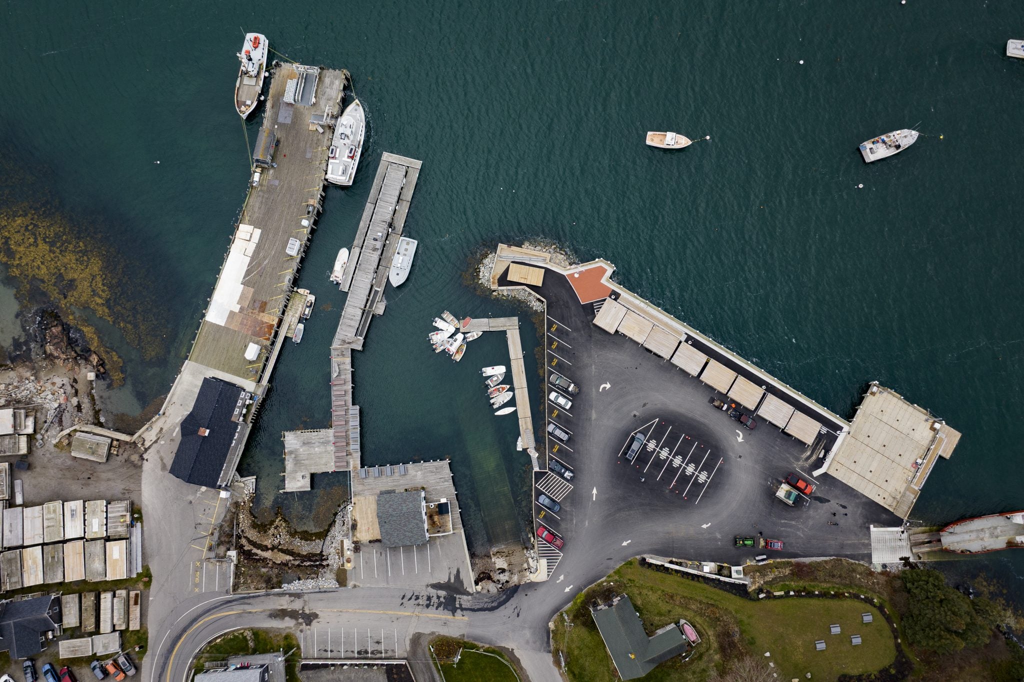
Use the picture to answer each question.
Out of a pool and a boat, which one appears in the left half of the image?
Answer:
boat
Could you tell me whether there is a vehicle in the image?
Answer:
Yes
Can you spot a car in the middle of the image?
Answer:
Yes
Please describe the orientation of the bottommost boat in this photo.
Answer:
on a diagonal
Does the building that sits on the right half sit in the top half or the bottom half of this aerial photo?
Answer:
bottom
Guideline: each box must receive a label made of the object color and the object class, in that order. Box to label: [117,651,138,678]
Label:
gray car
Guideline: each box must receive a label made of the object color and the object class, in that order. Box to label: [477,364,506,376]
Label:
white boat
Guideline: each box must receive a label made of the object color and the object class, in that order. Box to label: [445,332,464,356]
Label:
white boat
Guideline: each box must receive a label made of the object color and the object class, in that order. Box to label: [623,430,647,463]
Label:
gray vehicle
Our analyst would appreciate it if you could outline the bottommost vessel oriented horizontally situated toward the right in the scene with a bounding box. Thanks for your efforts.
[934,509,1024,556]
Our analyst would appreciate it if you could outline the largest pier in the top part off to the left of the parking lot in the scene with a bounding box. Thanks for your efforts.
[188,60,351,381]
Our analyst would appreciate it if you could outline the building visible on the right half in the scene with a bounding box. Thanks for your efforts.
[588,593,688,681]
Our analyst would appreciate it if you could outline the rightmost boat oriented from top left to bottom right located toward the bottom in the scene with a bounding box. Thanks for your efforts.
[680,618,700,646]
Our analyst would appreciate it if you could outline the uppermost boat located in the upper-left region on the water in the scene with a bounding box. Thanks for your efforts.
[230,25,267,118]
